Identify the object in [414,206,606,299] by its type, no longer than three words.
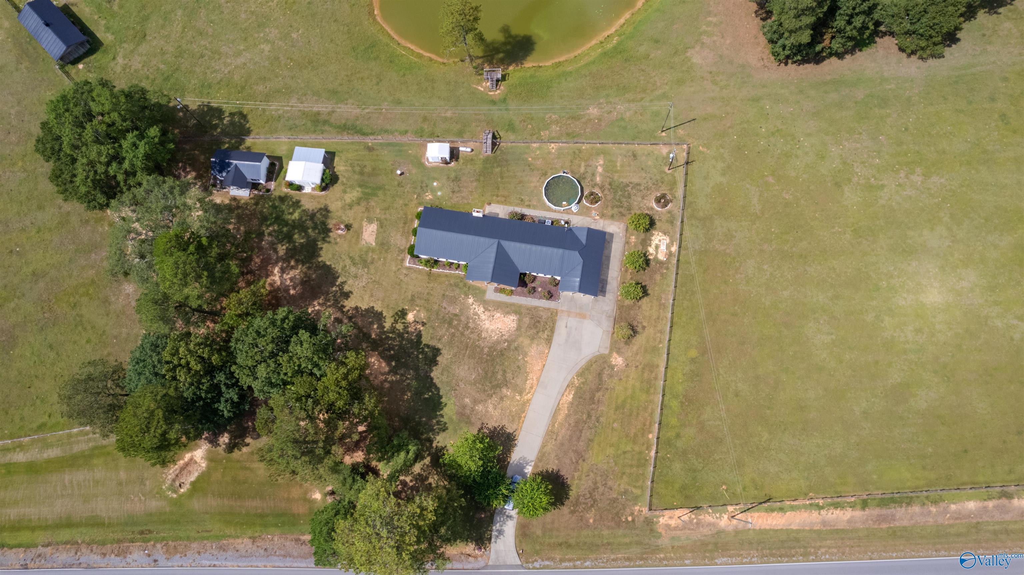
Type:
house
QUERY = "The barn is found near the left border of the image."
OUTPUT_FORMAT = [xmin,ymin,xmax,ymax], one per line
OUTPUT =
[17,0,92,66]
